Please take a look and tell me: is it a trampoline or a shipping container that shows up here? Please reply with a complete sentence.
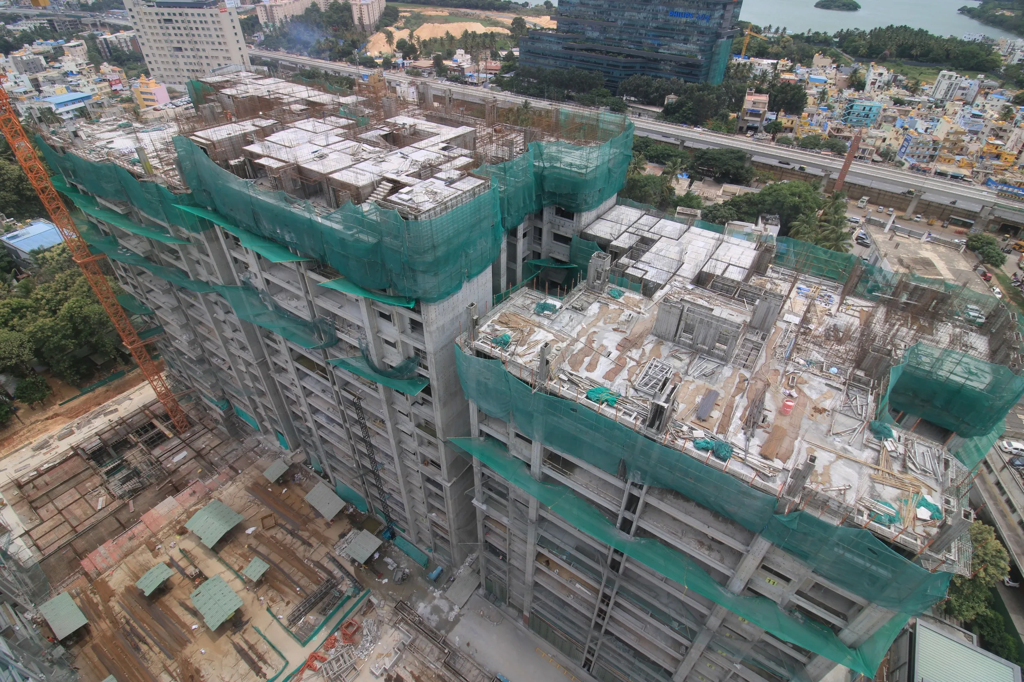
I can see a shipping container in this picture.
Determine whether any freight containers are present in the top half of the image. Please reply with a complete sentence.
No, looking in the top half of the image, there is no freight container.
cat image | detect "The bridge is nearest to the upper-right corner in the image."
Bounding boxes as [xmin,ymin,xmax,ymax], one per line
[256,45,1024,237]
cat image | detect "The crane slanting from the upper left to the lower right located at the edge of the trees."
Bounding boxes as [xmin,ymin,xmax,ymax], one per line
[0,84,215,438]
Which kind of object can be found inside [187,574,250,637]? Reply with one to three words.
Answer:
shed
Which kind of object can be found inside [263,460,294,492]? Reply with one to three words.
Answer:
shed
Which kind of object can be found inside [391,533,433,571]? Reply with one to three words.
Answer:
shipping container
